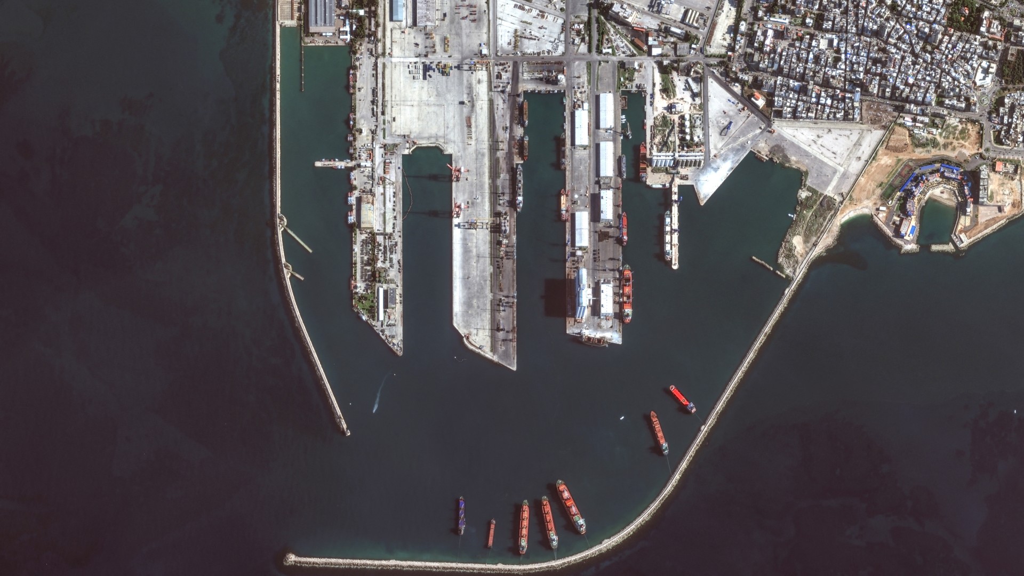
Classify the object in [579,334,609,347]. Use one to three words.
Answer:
ship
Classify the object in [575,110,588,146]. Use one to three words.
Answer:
building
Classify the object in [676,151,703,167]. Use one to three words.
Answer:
silo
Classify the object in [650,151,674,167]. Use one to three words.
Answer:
silo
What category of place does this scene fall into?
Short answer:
port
